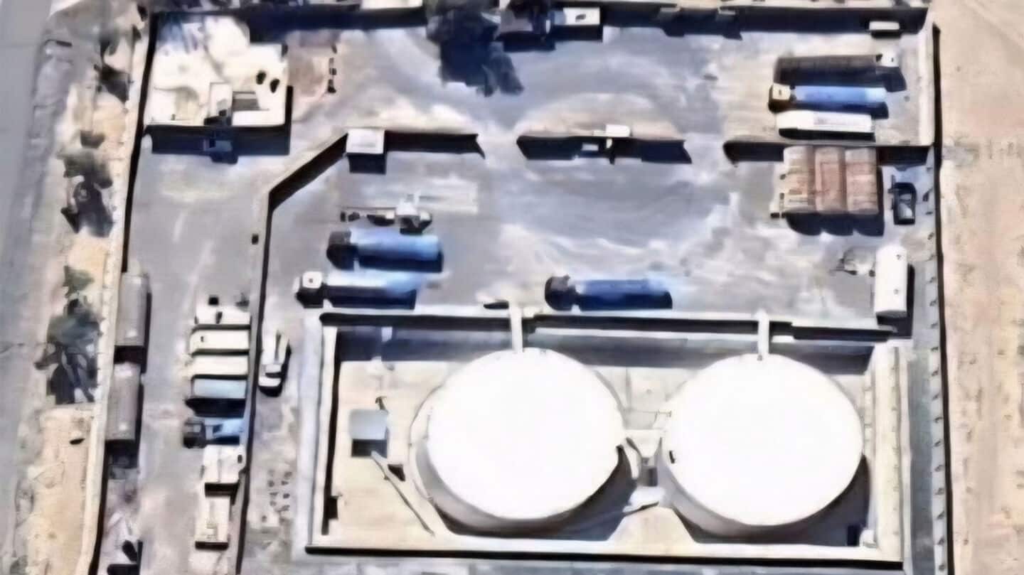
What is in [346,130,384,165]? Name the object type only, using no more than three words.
shed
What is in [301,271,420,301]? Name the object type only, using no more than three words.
truck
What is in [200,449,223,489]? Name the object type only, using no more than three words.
vehicle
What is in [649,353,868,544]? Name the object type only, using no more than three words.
storage tank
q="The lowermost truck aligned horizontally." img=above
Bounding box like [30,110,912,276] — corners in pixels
[183,415,243,441]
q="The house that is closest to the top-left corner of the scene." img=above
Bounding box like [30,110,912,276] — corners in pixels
[147,18,288,161]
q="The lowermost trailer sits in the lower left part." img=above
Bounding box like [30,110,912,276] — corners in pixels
[195,488,230,546]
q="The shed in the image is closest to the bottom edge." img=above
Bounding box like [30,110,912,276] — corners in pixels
[350,410,387,449]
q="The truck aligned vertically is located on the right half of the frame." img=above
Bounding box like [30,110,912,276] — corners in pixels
[894,182,915,225]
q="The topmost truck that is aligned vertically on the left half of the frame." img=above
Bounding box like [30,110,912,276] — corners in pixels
[259,331,284,394]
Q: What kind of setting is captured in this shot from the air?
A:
industrial area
